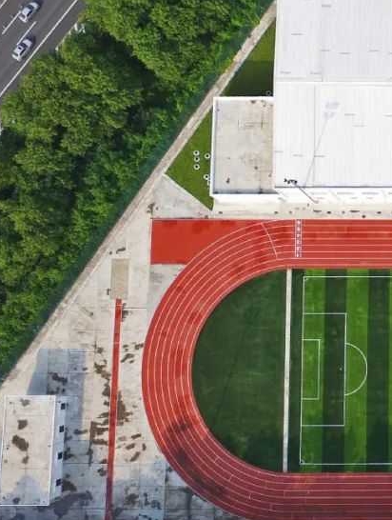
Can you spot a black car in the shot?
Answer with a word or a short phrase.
No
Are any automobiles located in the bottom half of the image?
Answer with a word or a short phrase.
No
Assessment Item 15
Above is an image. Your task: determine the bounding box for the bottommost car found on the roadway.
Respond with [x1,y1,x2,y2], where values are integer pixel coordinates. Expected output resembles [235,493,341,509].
[9,38,32,61]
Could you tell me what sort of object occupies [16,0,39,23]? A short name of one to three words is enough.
car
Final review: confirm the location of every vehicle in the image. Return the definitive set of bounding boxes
[16,0,39,23]
[9,38,32,61]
